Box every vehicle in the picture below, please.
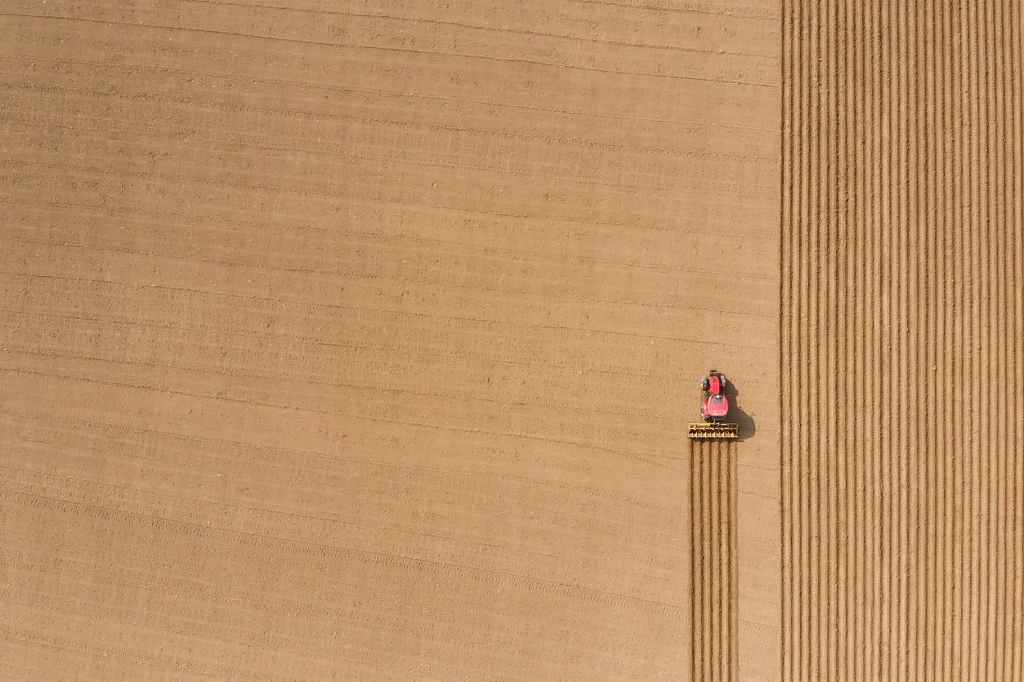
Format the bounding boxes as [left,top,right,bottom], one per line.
[699,370,731,423]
